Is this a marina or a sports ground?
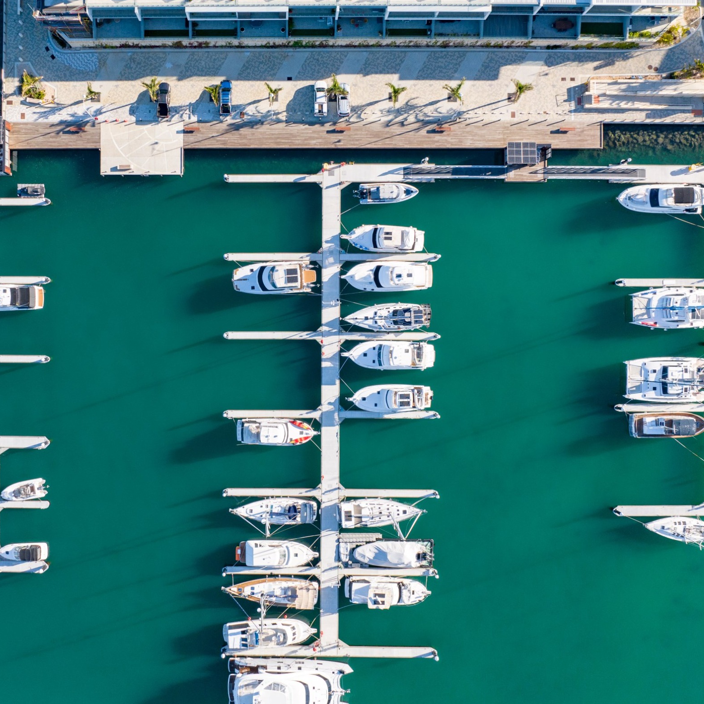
marina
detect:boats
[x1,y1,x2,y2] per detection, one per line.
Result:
[233,535,321,568]
[336,495,427,538]
[625,412,704,460]
[628,287,704,330]
[625,516,704,552]
[228,655,354,704]
[289,421,310,430]
[223,575,321,632]
[621,354,704,401]
[25,187,48,195]
[341,223,427,255]
[341,182,419,215]
[616,184,704,226]
[0,478,49,499]
[223,616,318,648]
[339,339,435,373]
[233,418,321,445]
[340,299,431,334]
[233,261,319,295]
[340,261,432,295]
[0,285,45,310]
[0,540,48,561]
[340,577,431,610]
[345,383,433,414]
[229,496,319,536]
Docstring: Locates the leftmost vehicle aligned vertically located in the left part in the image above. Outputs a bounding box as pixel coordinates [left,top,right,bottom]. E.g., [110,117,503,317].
[156,82,172,119]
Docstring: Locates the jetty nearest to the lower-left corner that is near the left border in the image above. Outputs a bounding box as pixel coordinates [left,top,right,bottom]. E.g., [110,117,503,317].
[0,560,49,574]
